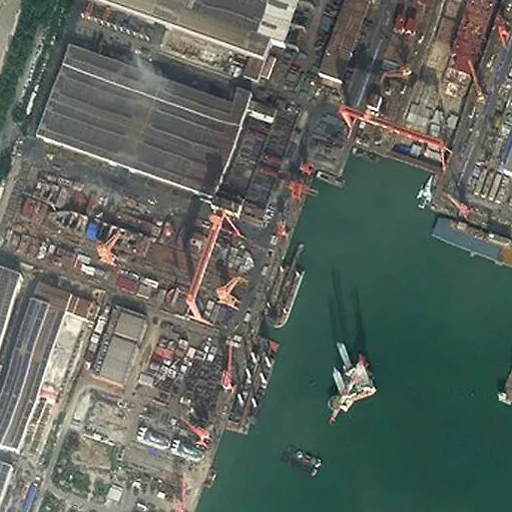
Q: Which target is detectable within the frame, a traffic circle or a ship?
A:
ship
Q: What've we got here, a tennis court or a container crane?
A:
container crane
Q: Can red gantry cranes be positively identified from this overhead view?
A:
Yes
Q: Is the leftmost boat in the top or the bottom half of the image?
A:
bottom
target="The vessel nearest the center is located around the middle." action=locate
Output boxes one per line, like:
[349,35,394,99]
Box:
[266,247,303,328]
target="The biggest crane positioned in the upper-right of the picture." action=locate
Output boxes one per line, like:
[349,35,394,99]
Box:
[341,106,455,172]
